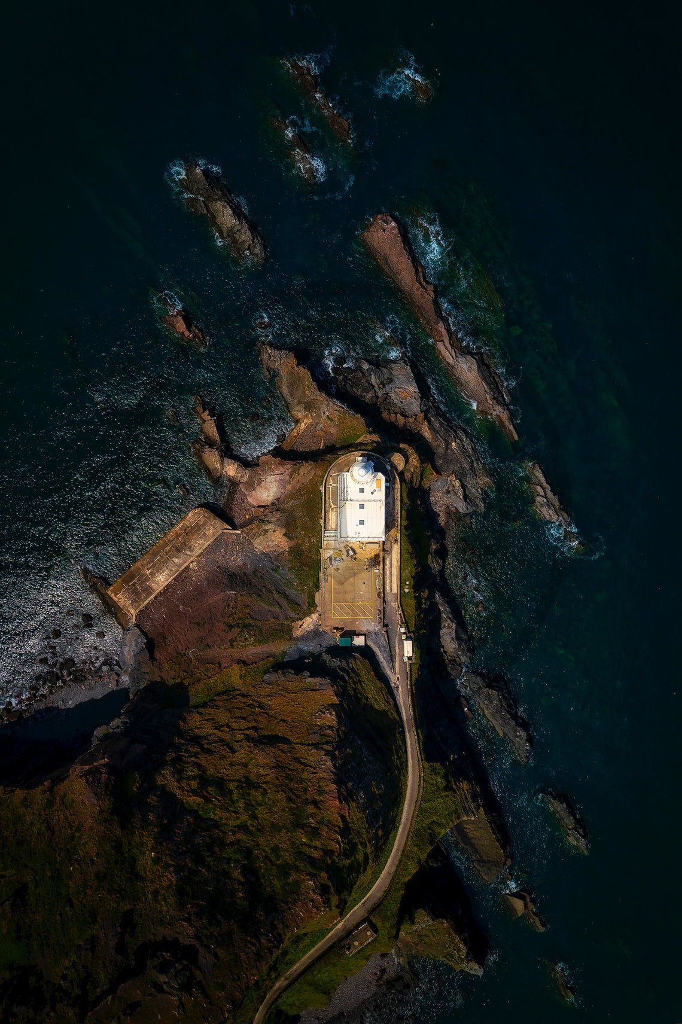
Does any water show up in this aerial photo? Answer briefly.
Yes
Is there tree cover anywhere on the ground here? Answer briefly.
No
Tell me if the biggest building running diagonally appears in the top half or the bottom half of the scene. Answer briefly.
bottom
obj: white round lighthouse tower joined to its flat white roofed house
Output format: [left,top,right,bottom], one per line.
[338,457,389,541]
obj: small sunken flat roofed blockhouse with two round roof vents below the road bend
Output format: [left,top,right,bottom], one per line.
[341,917,378,956]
